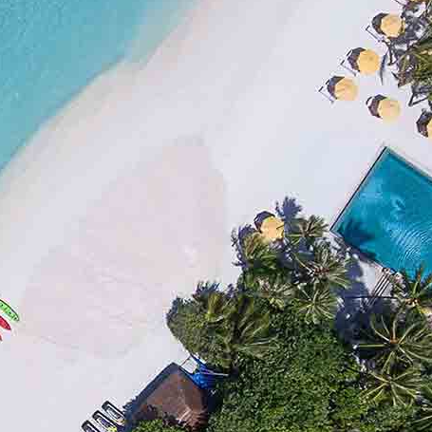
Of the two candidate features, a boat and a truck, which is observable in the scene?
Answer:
boat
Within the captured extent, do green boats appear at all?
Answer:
Yes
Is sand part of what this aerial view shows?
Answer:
Yes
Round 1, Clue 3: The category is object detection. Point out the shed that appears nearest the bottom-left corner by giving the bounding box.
[130,371,212,432]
